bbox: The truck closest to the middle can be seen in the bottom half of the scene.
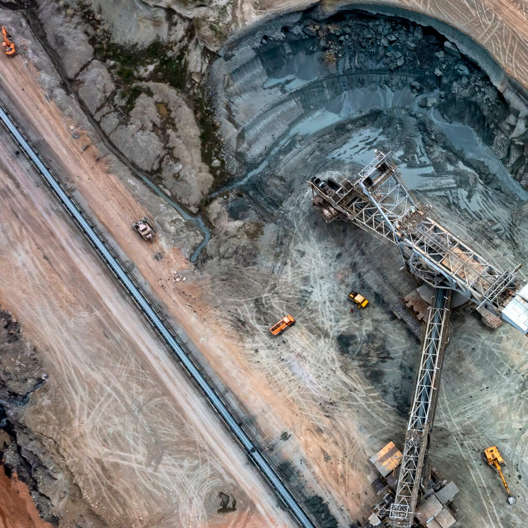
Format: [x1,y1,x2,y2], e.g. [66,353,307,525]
[265,314,297,338]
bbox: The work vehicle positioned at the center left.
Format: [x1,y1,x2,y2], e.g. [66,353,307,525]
[127,216,155,245]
